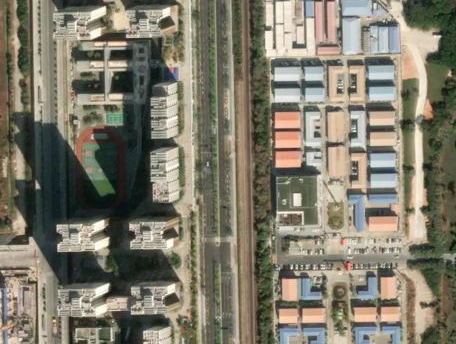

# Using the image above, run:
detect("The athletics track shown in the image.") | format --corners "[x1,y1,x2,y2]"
[75,126,126,208]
